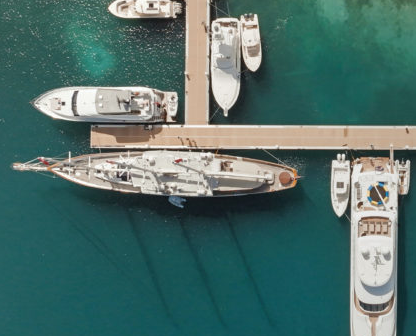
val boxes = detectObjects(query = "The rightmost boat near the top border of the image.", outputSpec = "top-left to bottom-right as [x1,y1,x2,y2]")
[242,12,262,72]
